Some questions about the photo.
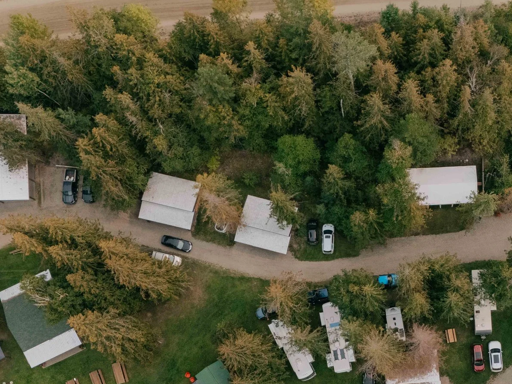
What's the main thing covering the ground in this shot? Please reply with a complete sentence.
The scene is dominated by trees.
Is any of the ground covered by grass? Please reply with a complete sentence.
Yes, grass shows up in the scene.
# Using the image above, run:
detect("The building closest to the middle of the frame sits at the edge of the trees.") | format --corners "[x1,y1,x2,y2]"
[235,195,297,256]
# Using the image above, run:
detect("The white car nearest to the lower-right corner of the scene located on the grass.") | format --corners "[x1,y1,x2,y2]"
[489,341,504,372]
